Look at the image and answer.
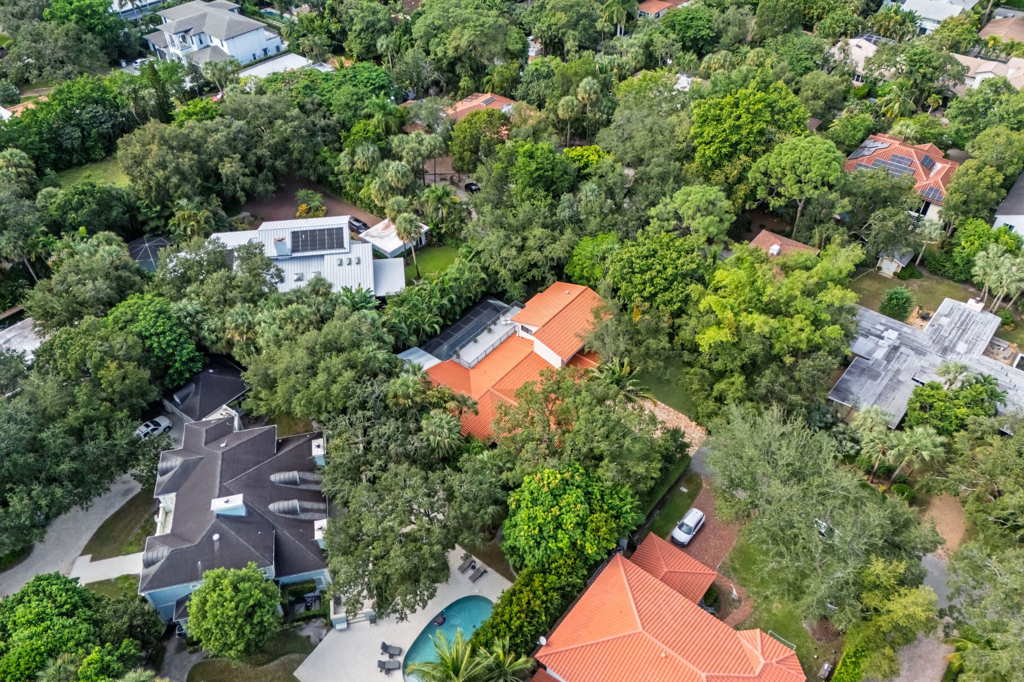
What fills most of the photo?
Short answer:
trees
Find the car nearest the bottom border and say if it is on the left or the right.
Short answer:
right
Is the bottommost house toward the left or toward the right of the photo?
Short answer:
right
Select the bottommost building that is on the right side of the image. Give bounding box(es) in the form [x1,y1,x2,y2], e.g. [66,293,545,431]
[528,531,808,682]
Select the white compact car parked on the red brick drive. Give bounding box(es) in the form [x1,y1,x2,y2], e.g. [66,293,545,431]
[669,505,708,550]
